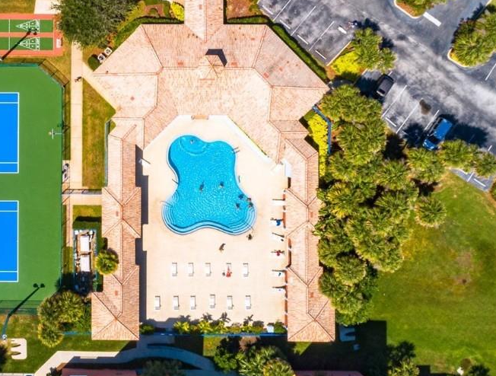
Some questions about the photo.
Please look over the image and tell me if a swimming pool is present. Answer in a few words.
Yes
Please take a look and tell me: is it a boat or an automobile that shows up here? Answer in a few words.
automobile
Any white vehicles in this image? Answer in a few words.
No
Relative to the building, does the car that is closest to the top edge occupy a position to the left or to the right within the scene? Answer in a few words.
to its right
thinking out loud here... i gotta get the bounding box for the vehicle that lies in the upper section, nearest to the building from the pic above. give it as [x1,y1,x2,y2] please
[368,70,398,105]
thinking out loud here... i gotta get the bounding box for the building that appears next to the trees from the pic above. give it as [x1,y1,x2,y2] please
[90,0,336,343]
